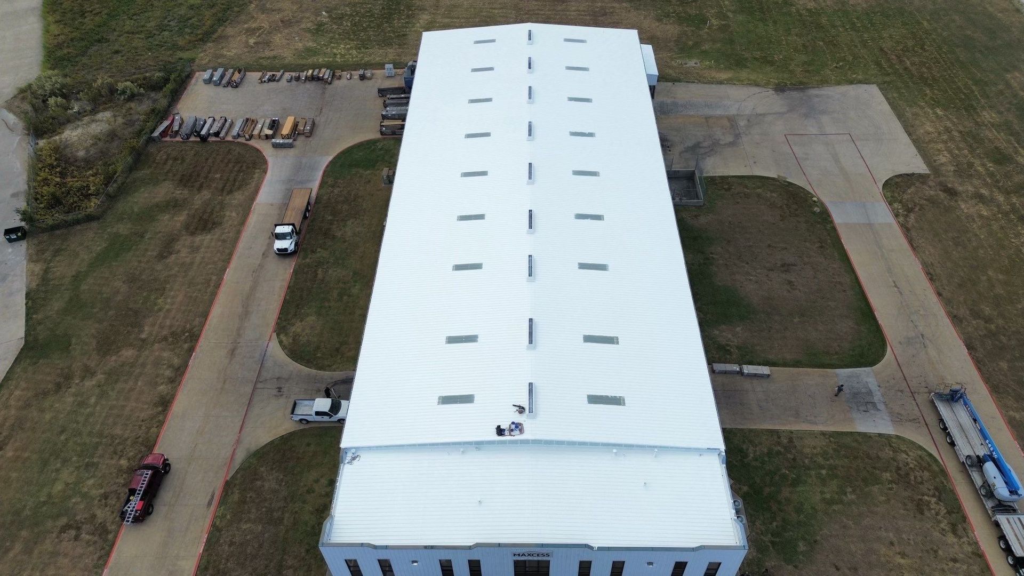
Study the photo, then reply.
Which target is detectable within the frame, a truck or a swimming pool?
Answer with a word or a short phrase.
truck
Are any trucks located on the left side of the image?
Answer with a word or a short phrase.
Yes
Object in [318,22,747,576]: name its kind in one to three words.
warehouse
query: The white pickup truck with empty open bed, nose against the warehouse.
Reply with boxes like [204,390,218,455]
[290,397,347,425]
